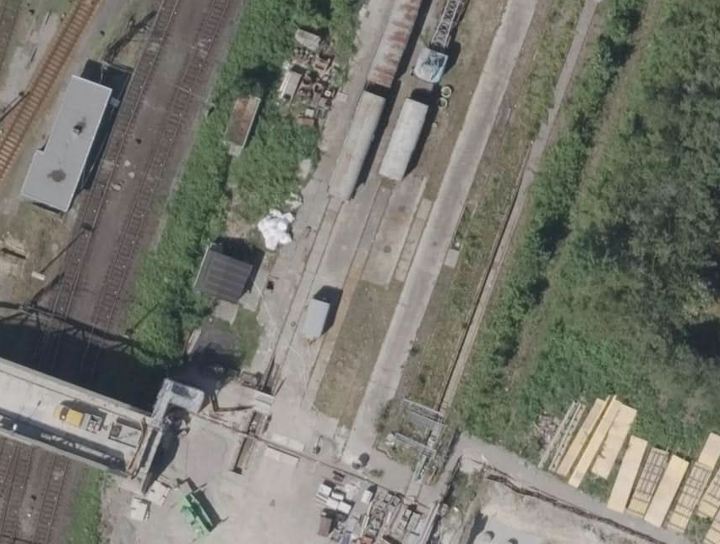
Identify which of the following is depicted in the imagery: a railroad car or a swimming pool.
railroad car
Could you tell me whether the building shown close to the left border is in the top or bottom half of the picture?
top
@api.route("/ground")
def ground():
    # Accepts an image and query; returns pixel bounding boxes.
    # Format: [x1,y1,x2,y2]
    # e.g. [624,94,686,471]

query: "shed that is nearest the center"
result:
[194,247,253,300]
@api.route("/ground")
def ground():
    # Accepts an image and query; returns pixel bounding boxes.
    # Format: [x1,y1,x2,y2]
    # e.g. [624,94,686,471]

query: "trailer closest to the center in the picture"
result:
[301,298,328,348]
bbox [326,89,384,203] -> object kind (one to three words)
rail car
